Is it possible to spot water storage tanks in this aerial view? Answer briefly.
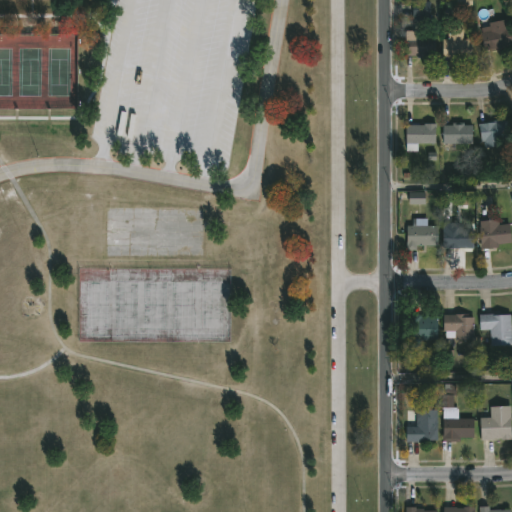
No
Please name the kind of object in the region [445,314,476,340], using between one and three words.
house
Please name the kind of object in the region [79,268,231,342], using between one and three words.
sports court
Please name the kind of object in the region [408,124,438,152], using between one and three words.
house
